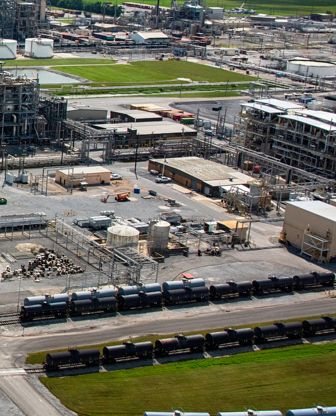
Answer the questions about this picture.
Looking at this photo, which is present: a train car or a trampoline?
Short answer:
train car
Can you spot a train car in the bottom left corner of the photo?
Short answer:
Yes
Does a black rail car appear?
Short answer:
Yes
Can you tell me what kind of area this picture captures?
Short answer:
industrial area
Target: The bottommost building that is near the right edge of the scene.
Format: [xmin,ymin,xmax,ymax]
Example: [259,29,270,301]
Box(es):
[280,199,336,266]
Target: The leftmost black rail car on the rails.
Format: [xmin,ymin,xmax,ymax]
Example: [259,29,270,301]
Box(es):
[16,293,71,320]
